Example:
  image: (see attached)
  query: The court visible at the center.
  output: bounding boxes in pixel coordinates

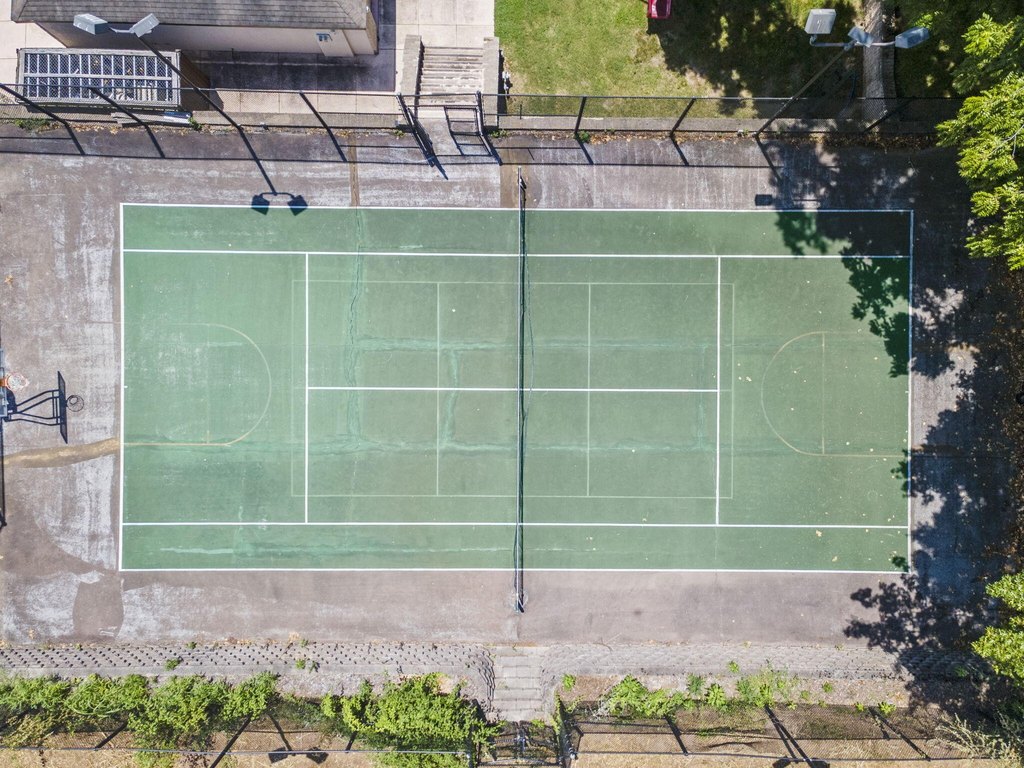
[119,202,913,574]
